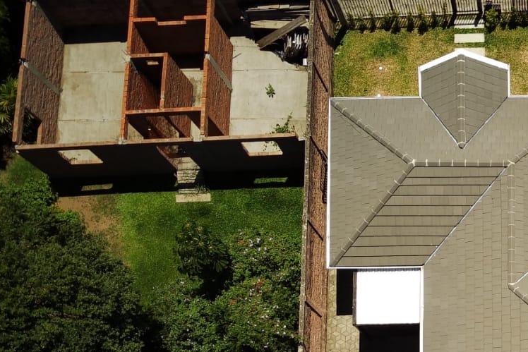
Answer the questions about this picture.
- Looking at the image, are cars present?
No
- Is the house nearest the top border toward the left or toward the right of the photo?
left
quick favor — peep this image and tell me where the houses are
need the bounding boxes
[321,44,528,352]
[8,0,310,194]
